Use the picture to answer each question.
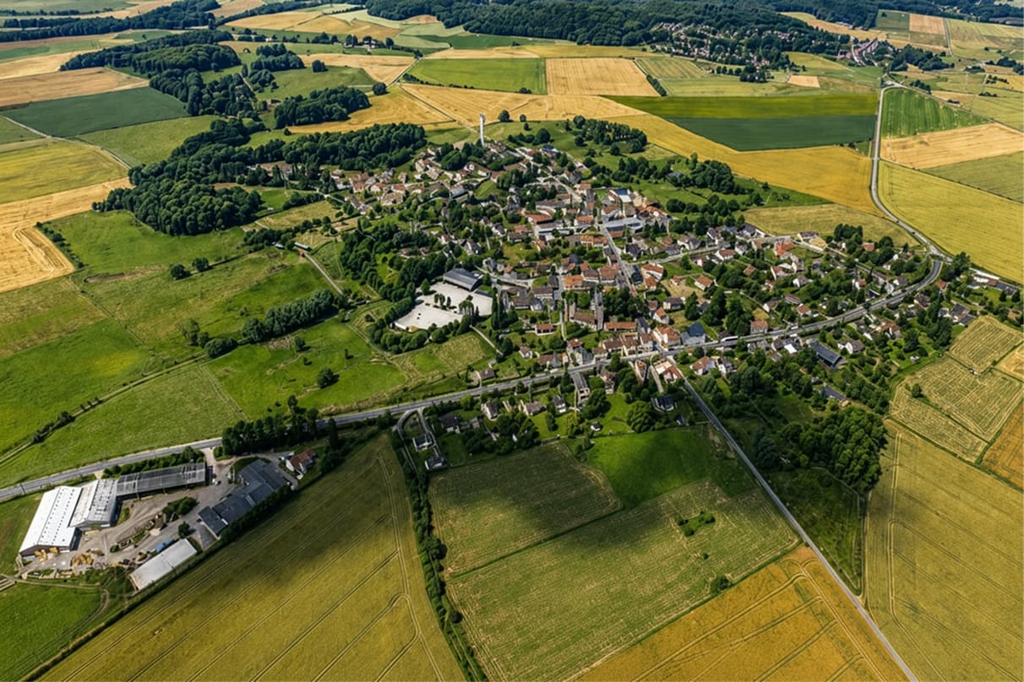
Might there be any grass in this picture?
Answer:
Yes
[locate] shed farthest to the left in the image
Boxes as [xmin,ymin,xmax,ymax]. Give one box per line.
[8,486,86,563]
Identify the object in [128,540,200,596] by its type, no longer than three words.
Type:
shed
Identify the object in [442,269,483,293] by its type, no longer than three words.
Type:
building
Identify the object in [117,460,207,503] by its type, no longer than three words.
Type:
barn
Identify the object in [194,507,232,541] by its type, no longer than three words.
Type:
building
